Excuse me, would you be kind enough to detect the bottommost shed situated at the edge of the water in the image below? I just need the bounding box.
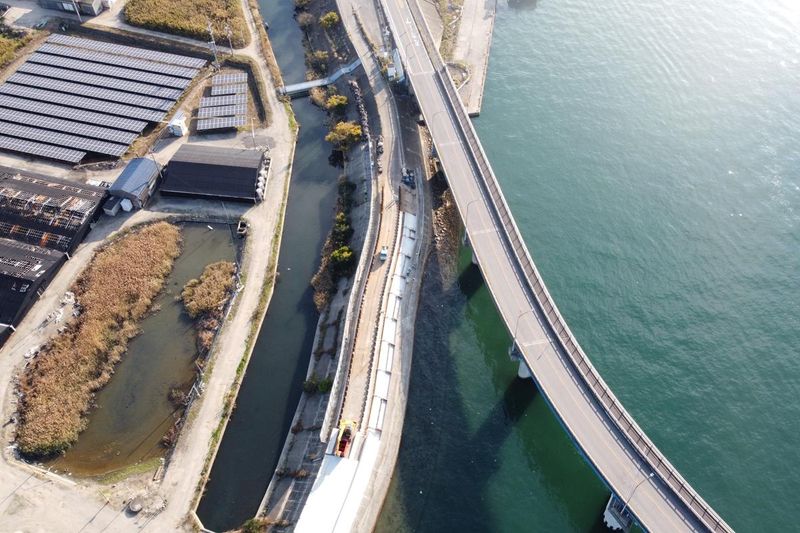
[0,240,66,336]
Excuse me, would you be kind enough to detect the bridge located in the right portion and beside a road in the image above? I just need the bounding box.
[377,0,741,533]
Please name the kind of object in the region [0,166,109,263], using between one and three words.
shed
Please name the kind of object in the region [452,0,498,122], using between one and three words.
pier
